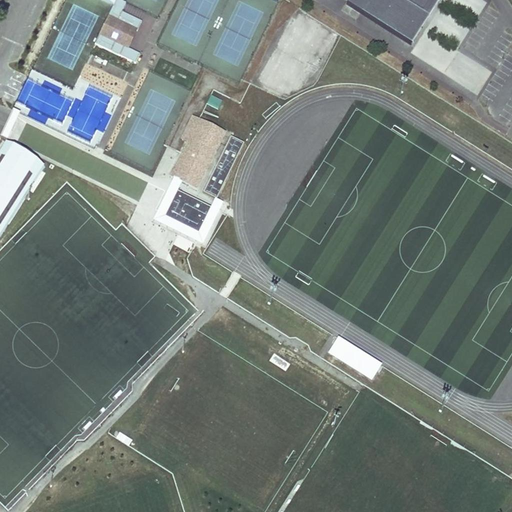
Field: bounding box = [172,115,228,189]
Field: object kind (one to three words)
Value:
building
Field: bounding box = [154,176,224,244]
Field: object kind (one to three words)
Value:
building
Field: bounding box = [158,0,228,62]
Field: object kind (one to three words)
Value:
tennis court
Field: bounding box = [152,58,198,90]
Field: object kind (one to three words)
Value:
sports court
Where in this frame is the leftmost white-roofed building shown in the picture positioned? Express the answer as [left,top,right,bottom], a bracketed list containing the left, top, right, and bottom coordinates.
[0,142,46,240]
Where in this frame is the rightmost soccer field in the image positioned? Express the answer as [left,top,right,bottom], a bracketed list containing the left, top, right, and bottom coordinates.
[258,100,512,398]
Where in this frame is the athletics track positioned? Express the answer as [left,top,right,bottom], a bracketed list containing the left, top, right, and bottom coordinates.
[192,84,512,446]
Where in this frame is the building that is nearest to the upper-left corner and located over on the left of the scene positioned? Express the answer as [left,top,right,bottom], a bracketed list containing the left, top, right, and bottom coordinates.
[96,0,142,64]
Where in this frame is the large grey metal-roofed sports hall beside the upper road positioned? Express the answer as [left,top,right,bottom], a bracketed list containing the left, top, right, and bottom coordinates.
[338,0,440,48]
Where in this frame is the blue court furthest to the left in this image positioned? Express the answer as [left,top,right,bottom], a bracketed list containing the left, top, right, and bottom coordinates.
[18,76,72,124]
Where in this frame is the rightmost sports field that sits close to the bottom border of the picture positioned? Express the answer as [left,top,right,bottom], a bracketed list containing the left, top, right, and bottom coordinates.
[114,332,328,512]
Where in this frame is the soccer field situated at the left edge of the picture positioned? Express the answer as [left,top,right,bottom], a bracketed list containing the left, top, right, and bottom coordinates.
[0,182,197,507]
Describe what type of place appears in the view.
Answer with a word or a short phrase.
sports ground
